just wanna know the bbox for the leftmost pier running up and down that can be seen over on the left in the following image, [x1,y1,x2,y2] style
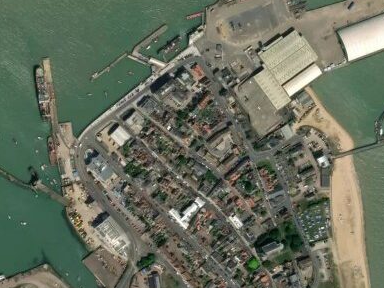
[43,57,59,130]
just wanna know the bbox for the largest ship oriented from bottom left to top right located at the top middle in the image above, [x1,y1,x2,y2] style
[158,37,182,55]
